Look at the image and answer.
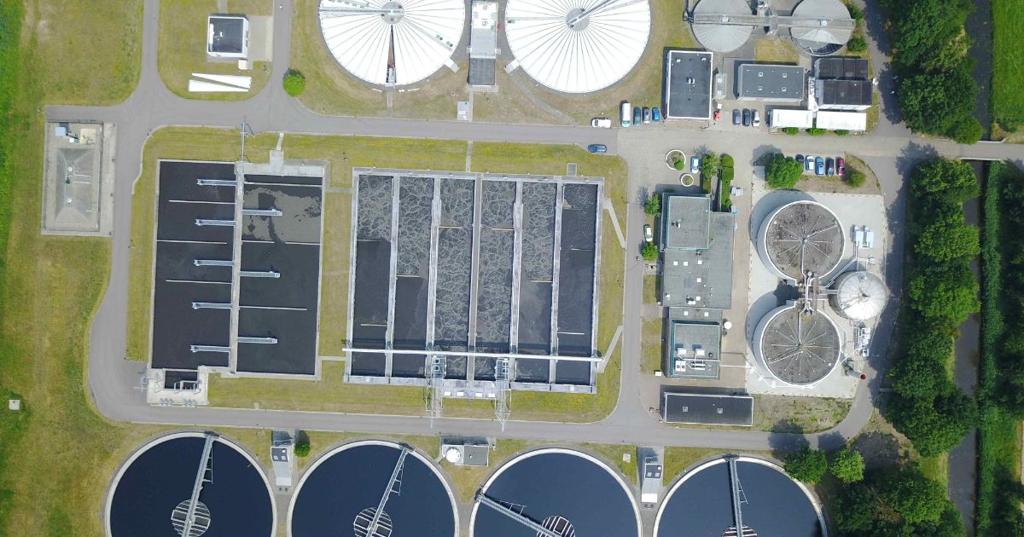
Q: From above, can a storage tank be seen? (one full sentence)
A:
Yes, this view includes a storage tank.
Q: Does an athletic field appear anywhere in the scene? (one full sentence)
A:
No, this view has no athletic field in it.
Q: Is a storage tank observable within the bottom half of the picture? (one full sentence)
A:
Yes, a storage tank can be seen within the bottom half of the picture.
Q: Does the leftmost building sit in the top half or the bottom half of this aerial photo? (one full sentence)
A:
It is in the top half that the leftmost building appears.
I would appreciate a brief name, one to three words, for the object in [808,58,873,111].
building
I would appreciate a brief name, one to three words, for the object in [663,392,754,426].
building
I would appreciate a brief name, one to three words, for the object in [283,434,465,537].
storage tank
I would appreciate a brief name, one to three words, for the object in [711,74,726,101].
shed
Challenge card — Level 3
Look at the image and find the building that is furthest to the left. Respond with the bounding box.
[207,16,249,57]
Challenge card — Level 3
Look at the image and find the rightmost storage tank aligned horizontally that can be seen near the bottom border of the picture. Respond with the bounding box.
[648,450,831,537]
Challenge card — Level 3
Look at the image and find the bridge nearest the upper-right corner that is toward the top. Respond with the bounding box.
[958,137,1007,162]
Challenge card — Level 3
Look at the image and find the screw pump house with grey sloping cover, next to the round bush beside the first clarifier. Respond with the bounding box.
[271,440,294,486]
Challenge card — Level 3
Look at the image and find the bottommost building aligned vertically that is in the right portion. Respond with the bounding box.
[641,456,662,503]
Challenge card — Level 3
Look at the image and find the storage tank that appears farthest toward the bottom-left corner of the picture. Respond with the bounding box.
[100,426,283,537]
